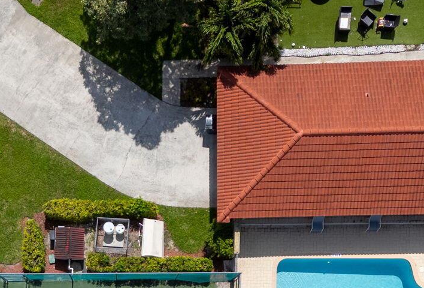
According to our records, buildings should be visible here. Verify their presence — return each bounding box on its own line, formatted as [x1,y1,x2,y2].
[55,227,85,277]
[216,60,424,224]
